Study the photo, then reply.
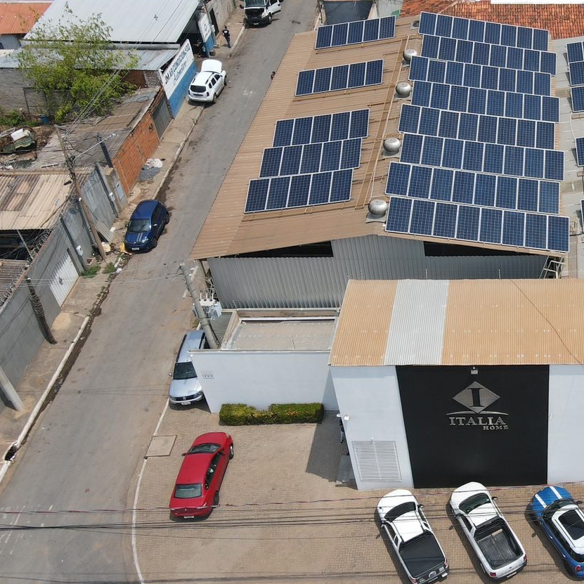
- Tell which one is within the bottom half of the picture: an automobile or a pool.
automobile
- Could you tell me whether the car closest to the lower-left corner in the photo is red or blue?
red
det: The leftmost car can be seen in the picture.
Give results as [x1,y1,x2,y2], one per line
[120,198,171,249]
